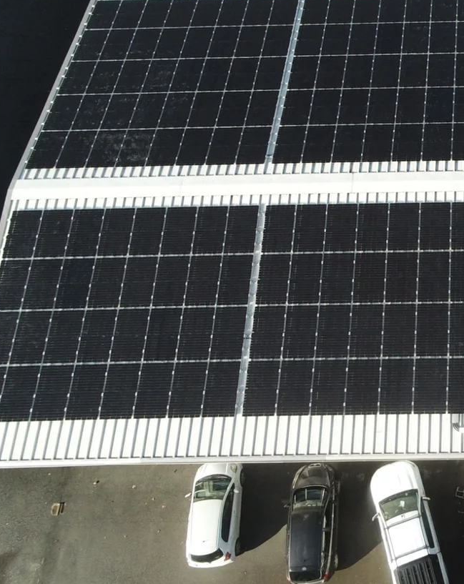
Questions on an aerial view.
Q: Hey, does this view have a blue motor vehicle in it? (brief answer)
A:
No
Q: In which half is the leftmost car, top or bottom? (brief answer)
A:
bottom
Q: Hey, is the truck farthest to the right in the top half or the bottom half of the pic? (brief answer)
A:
bottom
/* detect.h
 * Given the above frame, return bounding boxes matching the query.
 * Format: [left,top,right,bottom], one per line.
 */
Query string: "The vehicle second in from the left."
[284,461,342,584]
